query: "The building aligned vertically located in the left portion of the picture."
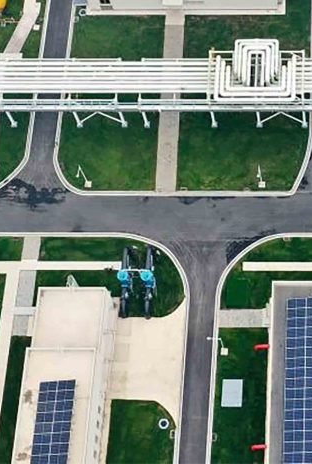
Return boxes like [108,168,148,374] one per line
[11,284,115,464]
